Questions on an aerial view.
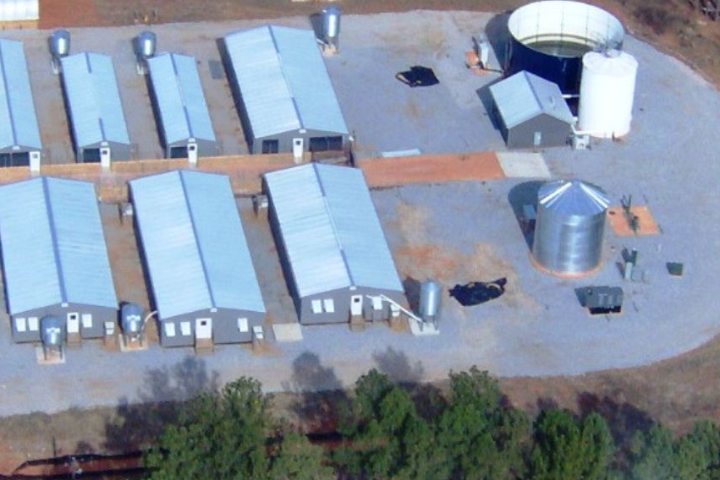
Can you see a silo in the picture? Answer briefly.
Yes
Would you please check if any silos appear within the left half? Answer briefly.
No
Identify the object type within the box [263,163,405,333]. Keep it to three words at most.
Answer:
building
